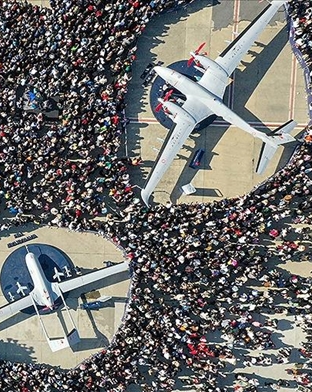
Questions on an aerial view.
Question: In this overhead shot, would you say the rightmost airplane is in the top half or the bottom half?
top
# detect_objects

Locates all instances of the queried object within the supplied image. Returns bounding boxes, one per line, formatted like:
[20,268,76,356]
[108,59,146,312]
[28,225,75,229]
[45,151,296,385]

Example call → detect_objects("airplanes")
[144,0,299,208]
[0,247,128,351]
